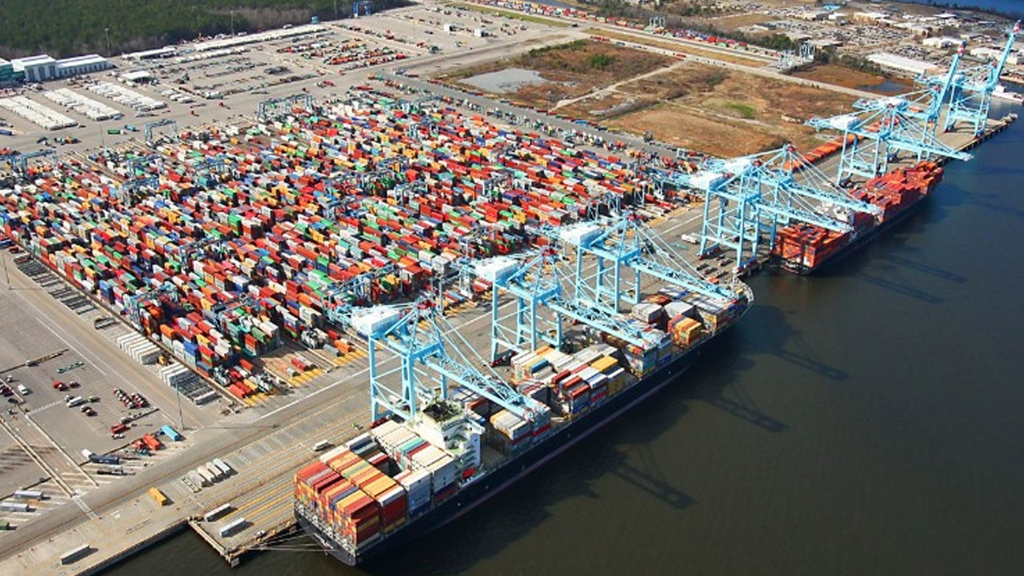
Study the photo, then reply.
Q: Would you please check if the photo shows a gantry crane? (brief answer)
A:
Yes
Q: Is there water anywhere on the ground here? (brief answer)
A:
Yes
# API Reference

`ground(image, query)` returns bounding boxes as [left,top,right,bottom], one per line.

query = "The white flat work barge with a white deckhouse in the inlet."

[994,80,1024,102]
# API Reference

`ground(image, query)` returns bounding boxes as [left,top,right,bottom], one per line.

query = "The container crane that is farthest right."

[920,16,1022,138]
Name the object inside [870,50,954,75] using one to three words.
building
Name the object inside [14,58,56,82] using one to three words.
building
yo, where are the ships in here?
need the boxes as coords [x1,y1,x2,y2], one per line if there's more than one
[774,164,946,271]
[994,80,1024,102]
[297,271,764,564]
